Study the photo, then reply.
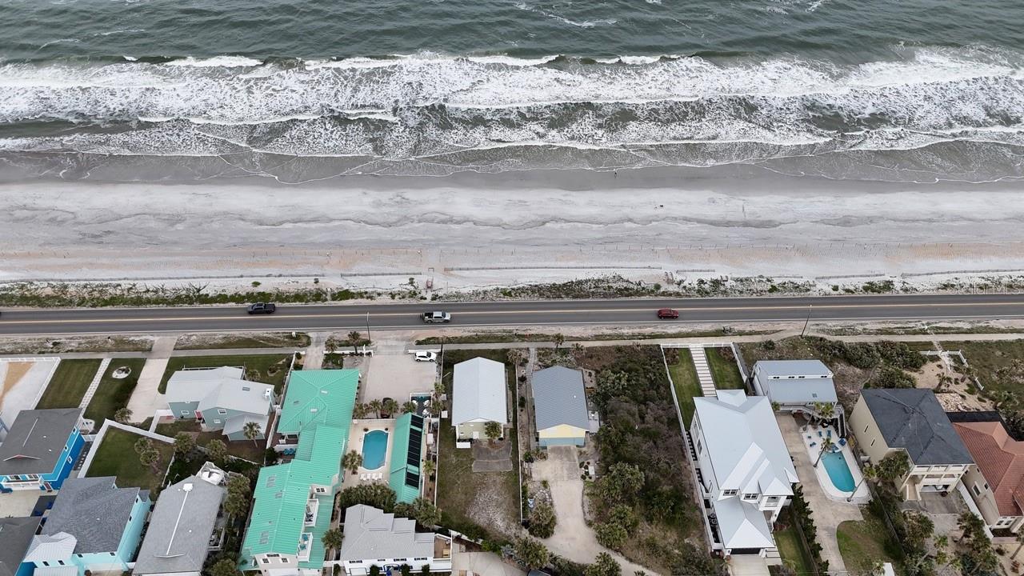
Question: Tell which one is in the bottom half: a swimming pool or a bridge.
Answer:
swimming pool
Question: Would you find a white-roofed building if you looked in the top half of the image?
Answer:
No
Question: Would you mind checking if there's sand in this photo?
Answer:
Yes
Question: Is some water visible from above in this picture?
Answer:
Yes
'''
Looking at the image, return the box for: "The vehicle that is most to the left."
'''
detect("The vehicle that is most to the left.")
[246,302,275,315]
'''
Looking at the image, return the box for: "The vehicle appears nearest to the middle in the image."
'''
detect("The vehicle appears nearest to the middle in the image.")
[421,311,450,325]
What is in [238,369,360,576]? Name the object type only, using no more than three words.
building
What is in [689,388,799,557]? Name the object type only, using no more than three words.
house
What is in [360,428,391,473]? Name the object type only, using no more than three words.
swimming pool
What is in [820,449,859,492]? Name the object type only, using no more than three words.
swimming pool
